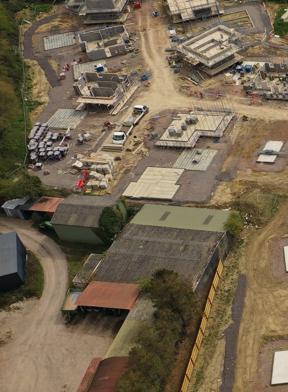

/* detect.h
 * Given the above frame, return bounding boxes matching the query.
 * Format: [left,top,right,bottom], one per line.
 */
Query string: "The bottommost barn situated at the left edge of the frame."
[0,228,33,298]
